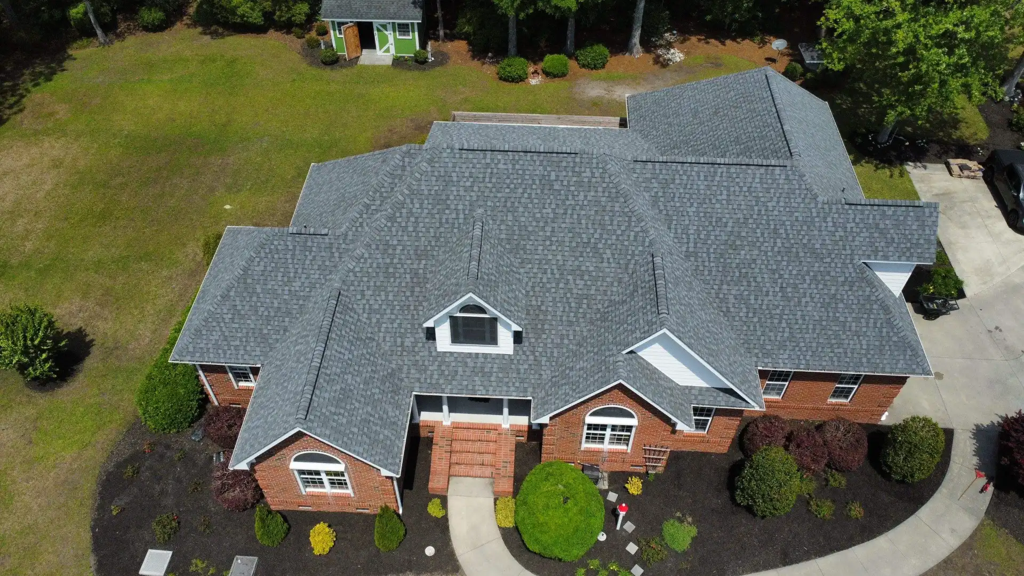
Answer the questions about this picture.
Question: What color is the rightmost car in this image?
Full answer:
From above, the rightmost car appears black.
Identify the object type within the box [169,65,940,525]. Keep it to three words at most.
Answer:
house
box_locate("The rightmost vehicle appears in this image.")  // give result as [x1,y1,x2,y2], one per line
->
[984,144,1024,228]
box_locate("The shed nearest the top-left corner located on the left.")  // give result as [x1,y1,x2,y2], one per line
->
[321,0,428,59]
